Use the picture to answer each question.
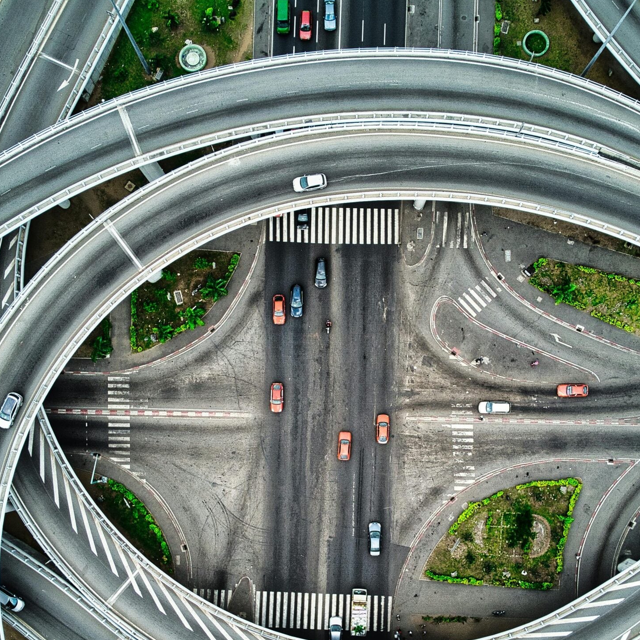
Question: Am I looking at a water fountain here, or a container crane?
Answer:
water fountain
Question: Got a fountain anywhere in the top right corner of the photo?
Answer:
Yes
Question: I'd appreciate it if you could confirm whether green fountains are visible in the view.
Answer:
Yes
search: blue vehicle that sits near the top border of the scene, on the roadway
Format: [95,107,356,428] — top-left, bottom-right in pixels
[323,0,337,32]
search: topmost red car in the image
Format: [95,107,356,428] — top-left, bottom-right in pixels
[298,10,313,41]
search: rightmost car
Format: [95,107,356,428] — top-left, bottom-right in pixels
[556,384,588,397]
